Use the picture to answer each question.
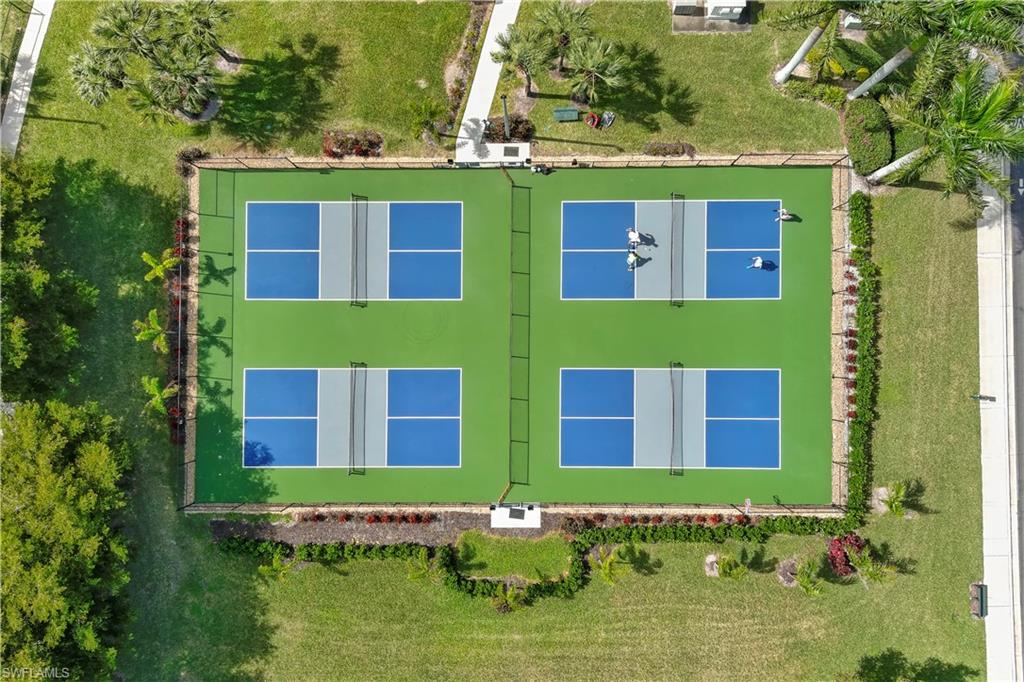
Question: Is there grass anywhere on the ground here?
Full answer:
Yes, there is grass in the image.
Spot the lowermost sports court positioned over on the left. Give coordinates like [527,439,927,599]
[243,368,462,468]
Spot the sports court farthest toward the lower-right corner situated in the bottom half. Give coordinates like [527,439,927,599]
[560,368,781,469]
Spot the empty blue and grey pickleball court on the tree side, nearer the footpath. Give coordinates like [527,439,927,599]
[246,201,463,300]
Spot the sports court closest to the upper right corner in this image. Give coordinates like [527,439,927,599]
[561,200,781,300]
